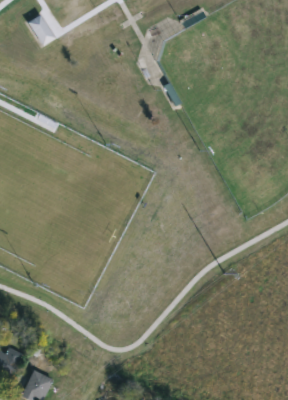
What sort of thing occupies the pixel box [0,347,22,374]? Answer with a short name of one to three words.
house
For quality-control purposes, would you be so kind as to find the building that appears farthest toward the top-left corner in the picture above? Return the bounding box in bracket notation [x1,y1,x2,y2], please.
[27,14,55,46]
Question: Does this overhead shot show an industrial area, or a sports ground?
sports ground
